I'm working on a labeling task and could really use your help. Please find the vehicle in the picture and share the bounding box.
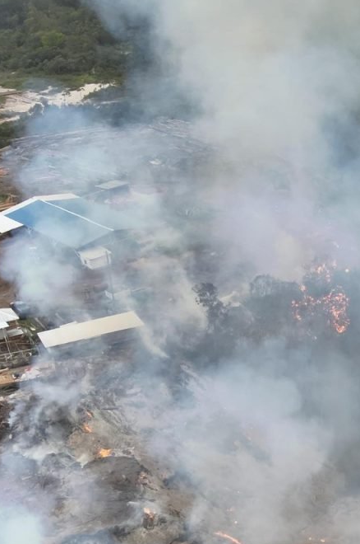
[10,297,30,313]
